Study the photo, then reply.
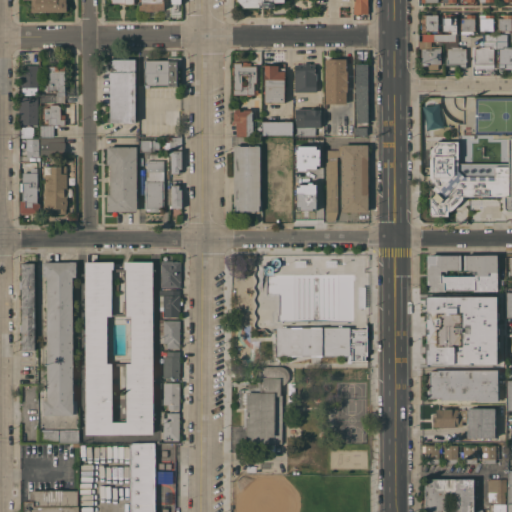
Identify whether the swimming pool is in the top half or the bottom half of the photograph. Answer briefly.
bottom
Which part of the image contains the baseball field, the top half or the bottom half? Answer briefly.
bottom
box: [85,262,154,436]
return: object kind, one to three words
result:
building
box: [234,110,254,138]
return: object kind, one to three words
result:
house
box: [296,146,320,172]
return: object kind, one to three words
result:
house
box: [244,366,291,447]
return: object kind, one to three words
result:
building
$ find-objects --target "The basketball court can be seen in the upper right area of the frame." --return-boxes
[476,98,512,136]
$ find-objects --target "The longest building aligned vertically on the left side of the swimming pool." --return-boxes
[40,263,78,430]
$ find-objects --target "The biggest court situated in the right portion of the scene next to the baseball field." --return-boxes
[336,380,367,443]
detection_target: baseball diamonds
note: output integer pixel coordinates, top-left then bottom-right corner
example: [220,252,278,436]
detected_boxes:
[233,475,372,512]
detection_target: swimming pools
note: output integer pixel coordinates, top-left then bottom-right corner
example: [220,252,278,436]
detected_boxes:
[108,317,130,363]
